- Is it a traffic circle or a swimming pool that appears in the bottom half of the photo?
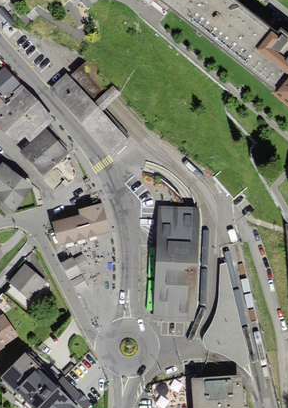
traffic circle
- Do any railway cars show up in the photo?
Yes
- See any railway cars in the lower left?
No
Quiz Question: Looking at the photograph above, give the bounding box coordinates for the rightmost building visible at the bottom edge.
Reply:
[191,376,249,408]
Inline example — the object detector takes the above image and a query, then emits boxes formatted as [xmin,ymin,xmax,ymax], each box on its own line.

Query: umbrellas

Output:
[156,396,170,408]
[156,384,168,396]
[170,379,184,392]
